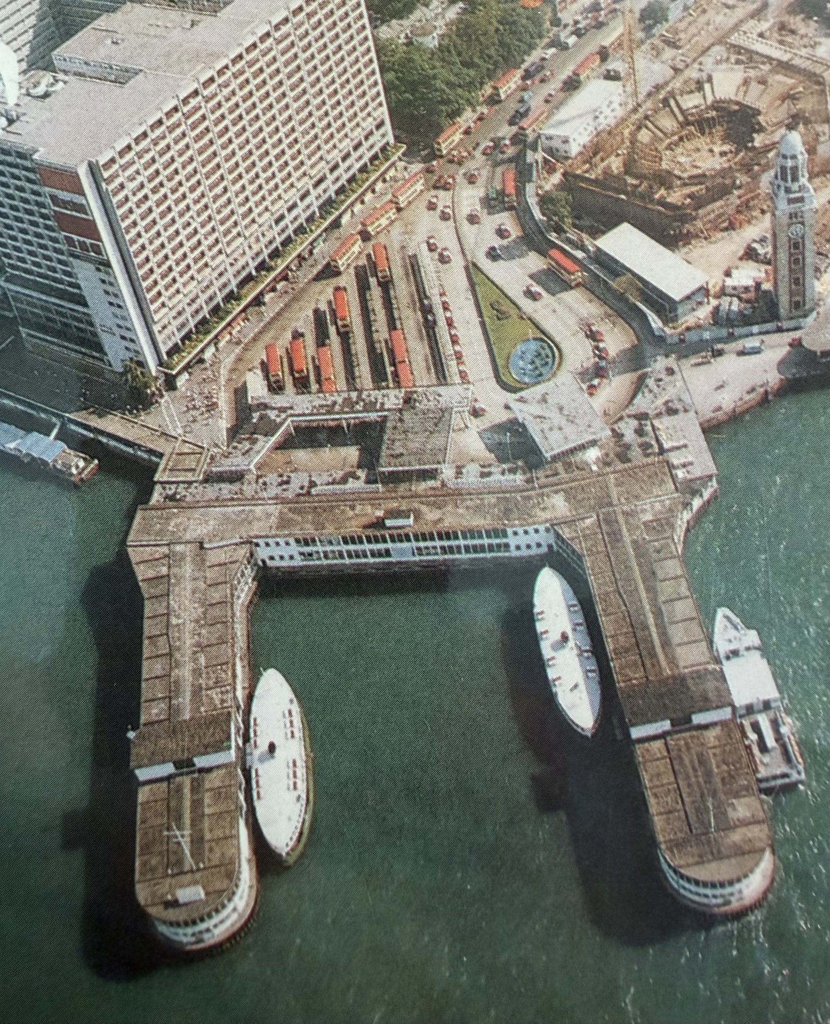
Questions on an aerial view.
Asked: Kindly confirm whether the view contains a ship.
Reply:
Yes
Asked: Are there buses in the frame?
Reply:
Yes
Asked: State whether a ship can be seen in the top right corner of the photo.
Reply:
No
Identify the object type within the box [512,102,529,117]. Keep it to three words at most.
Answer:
vehicle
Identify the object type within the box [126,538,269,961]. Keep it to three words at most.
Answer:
pier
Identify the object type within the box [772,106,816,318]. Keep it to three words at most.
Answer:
building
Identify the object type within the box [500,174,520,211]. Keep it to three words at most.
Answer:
bus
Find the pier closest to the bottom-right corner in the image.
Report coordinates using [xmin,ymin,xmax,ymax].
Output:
[555,498,779,924]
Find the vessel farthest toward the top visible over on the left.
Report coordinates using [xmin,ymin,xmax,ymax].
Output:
[0,421,104,484]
